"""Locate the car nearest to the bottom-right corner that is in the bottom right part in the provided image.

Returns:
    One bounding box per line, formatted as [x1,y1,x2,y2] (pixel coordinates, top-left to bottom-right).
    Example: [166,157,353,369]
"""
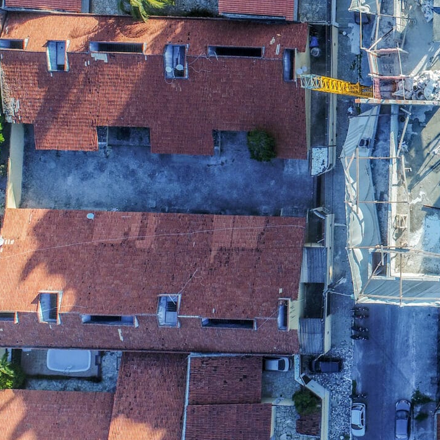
[392,398,412,440]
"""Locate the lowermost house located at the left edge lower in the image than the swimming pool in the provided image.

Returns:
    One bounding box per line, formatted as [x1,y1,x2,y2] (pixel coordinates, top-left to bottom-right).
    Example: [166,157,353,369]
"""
[0,383,115,440]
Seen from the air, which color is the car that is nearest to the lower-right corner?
blue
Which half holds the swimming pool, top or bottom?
bottom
